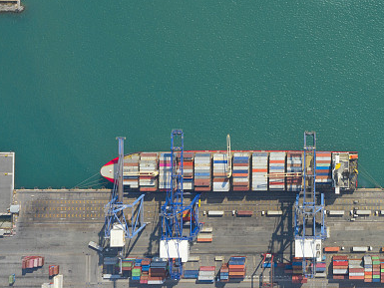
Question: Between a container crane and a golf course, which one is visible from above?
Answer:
container crane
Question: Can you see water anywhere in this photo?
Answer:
Yes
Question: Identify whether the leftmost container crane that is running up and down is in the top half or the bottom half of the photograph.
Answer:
bottom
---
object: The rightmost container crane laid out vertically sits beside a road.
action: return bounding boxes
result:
[292,128,326,282]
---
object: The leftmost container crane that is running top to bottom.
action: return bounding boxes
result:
[104,134,152,273]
